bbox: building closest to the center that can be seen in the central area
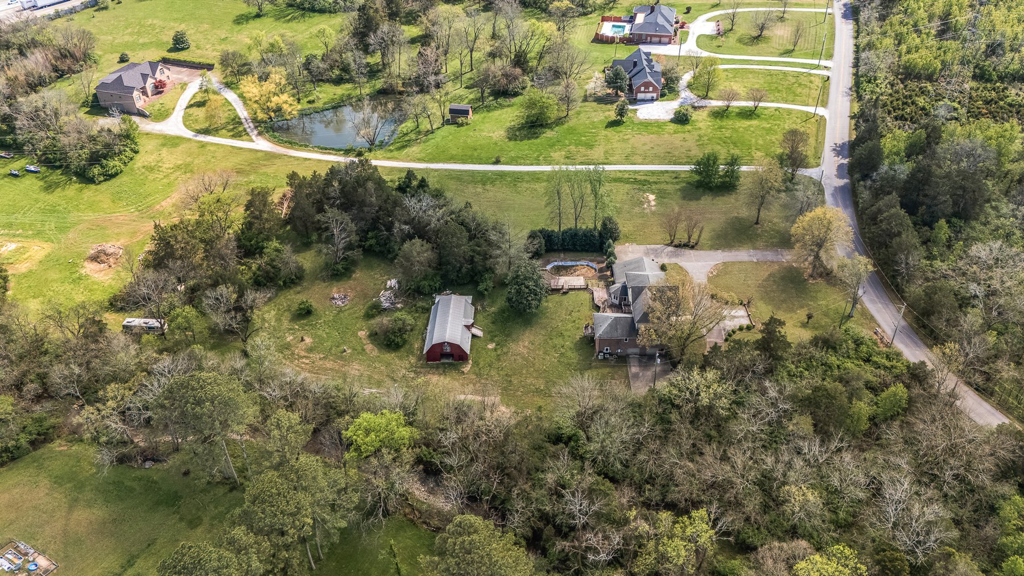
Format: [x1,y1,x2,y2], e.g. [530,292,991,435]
[424,293,483,362]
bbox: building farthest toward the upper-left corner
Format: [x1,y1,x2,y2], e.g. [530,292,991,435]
[83,60,174,117]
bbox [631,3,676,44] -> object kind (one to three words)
house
